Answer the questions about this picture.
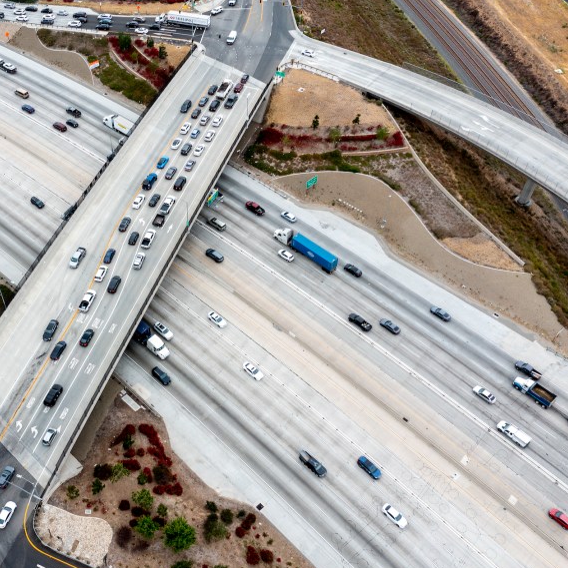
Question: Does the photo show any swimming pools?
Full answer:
No, I can see no swimming pool in this picture.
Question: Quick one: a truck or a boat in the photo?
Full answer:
Visible in the photo is a truck.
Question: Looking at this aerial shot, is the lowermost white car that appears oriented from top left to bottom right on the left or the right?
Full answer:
The lowermost white car that appears oriented from top left to bottom right appears in the right half of the scene.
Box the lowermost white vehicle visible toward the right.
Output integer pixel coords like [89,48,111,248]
[380,503,409,530]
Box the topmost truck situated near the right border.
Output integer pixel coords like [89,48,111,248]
[513,358,544,382]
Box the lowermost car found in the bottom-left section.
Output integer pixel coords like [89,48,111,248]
[0,500,17,531]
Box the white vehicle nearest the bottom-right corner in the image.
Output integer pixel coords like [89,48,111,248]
[497,420,532,447]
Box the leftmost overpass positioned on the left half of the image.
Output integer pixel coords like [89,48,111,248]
[0,39,269,496]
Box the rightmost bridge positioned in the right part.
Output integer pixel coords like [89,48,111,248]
[339,42,568,209]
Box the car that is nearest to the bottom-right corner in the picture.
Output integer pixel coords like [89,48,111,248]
[545,505,568,532]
